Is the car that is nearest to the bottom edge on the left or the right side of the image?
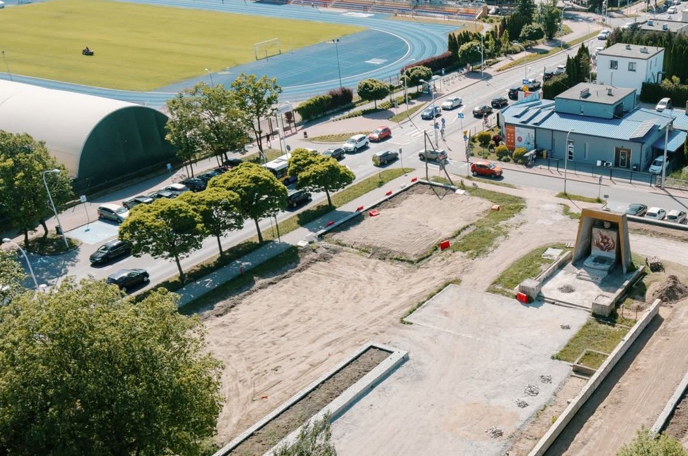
left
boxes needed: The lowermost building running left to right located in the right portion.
[497,82,688,175]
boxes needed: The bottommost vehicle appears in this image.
[103,266,151,289]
